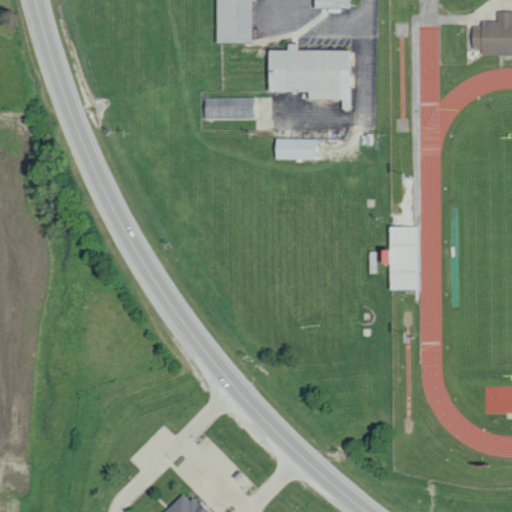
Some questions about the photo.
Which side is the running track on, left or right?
right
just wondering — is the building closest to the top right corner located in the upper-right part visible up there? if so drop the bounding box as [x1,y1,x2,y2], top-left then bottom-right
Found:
[472,10,512,54]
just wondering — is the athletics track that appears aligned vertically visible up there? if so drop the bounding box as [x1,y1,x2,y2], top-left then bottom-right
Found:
[420,27,512,456]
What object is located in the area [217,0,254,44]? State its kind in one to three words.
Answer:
barn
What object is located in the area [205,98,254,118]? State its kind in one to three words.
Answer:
greenhouse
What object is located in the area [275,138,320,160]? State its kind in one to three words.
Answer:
shed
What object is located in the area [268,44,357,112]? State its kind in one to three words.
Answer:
building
